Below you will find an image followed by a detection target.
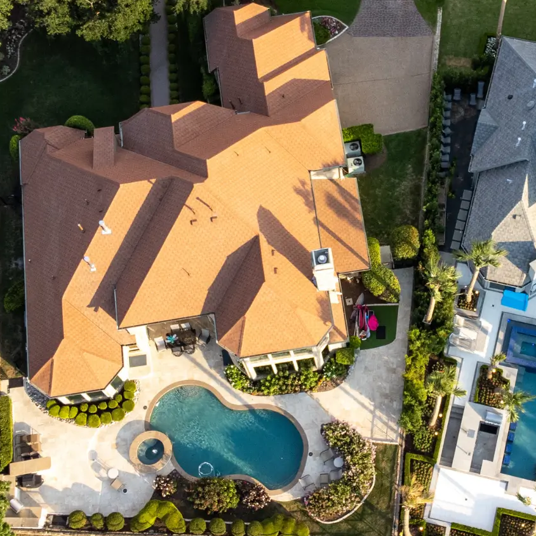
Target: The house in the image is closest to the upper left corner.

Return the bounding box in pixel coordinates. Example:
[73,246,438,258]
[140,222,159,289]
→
[19,2,370,403]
